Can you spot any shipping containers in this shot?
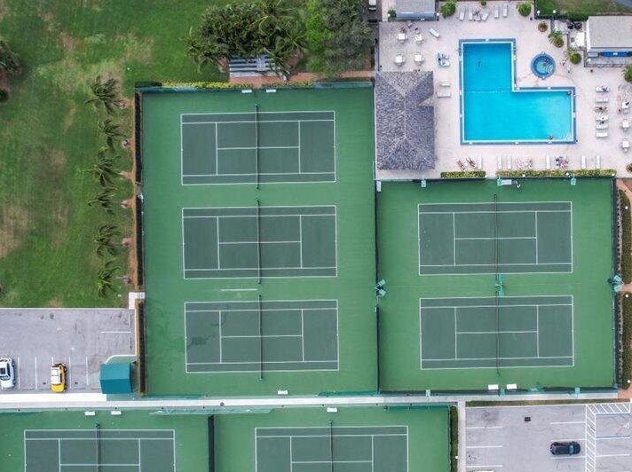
No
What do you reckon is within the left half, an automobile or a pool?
automobile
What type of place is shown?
sports ground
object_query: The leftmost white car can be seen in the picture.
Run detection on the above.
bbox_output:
[0,358,18,388]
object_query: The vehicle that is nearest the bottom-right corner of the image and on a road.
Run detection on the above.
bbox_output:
[549,441,580,455]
